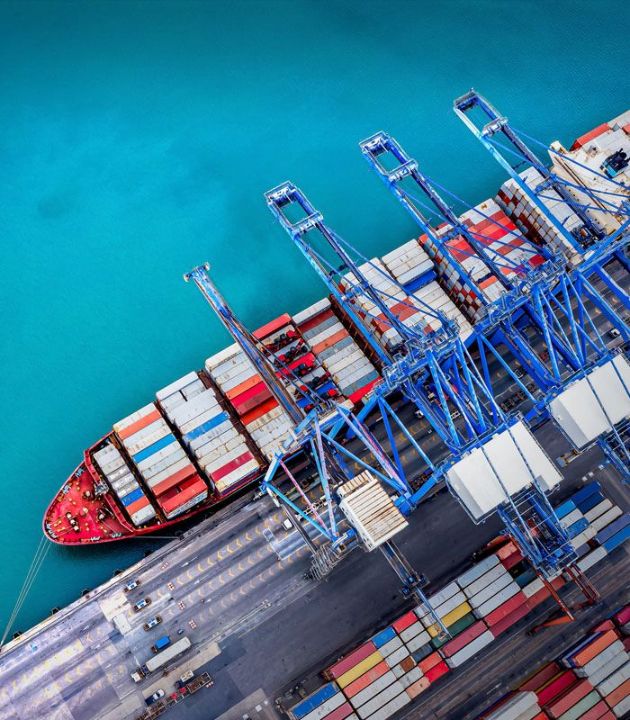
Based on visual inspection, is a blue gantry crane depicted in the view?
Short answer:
Yes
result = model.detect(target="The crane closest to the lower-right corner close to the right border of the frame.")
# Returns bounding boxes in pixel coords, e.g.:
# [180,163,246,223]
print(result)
[472,530,603,637]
